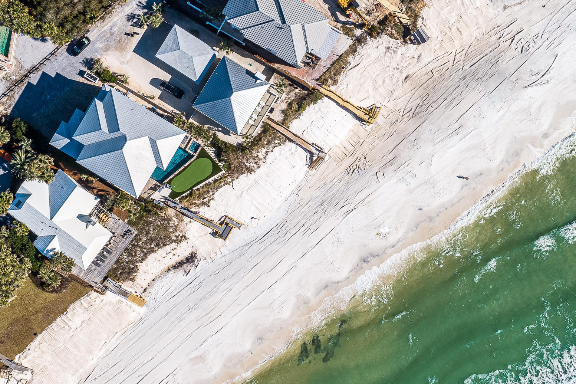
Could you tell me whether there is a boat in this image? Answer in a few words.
No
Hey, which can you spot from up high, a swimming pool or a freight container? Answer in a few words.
swimming pool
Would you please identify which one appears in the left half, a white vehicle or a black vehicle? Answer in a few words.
black vehicle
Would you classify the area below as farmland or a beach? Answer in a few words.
beach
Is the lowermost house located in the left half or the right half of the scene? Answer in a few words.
left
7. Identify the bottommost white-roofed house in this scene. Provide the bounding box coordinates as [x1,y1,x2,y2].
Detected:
[8,170,122,270]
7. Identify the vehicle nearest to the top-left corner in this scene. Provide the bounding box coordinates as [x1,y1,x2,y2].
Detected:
[71,36,91,54]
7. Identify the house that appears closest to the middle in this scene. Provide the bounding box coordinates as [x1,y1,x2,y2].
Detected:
[192,57,286,135]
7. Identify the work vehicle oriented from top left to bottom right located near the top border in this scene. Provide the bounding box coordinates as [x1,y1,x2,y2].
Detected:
[335,0,375,33]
